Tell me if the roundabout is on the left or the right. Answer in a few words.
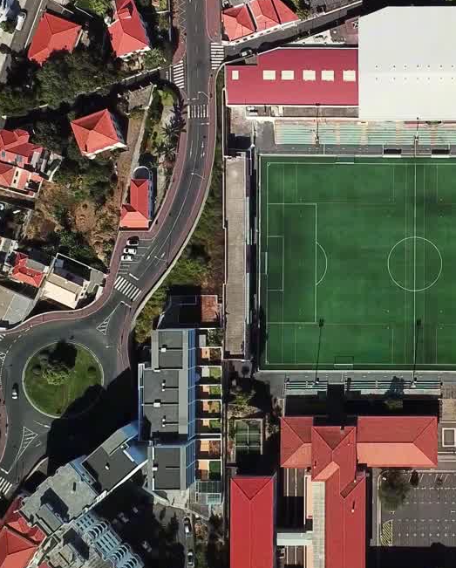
left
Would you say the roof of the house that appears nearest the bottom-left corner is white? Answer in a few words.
No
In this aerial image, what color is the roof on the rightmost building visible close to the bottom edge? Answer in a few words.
red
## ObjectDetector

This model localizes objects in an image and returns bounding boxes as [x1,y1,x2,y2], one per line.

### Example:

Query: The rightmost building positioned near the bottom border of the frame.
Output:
[280,414,437,568]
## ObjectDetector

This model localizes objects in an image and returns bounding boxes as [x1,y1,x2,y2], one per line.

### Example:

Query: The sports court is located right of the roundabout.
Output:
[233,418,262,456]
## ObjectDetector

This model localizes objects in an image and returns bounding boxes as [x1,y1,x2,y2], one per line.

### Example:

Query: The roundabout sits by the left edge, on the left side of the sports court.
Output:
[0,316,127,443]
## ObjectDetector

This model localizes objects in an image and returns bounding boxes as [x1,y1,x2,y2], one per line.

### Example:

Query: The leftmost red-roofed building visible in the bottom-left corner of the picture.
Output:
[0,495,50,568]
